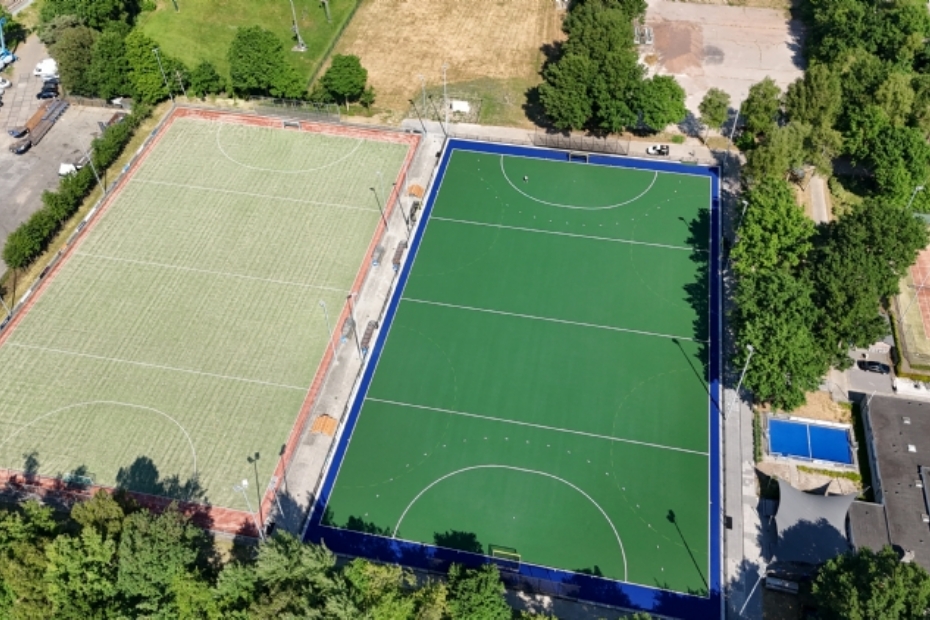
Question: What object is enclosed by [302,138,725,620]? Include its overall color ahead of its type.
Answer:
green sports field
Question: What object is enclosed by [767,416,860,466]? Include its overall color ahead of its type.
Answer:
blue sports court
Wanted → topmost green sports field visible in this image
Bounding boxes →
[139,0,364,93]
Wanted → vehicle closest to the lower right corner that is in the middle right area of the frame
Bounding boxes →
[857,355,890,374]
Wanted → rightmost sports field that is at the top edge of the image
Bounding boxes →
[311,0,577,125]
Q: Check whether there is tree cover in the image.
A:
Yes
